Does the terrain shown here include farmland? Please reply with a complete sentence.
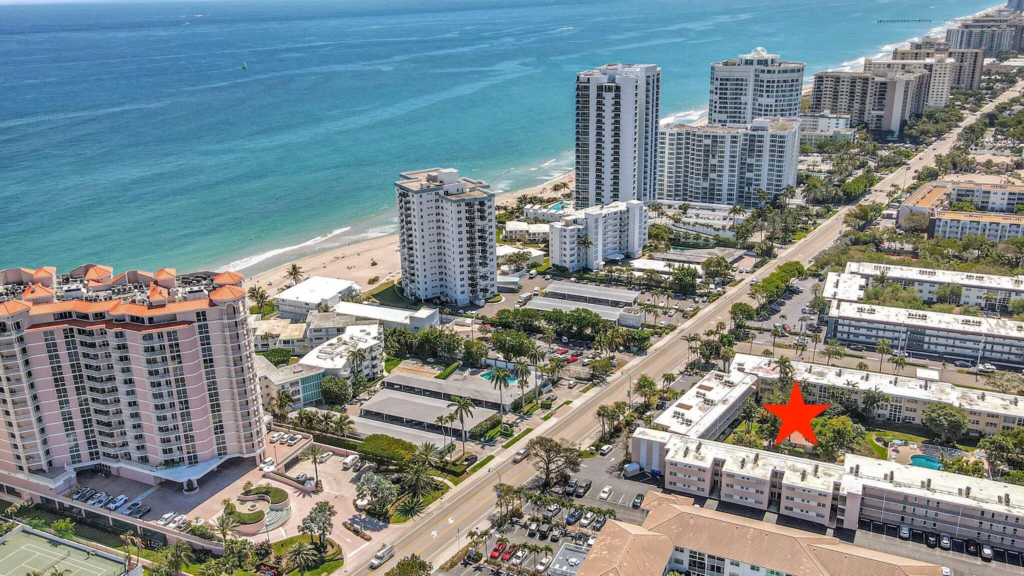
No, no farmland is visible.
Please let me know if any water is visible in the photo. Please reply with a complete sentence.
Yes, the picture does contain water.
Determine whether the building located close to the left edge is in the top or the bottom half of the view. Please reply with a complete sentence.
The building located close to the left edge is in the bottom half of the image.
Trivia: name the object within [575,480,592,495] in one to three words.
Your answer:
vehicle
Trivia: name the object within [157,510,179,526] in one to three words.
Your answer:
car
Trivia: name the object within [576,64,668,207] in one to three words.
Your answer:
building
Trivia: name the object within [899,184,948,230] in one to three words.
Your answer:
building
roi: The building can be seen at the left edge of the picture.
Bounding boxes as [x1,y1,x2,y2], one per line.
[0,263,275,499]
